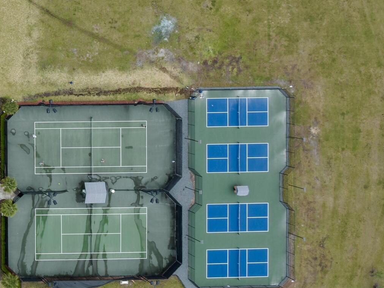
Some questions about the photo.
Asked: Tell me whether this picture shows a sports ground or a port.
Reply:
sports ground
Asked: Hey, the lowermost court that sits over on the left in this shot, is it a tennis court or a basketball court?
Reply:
tennis court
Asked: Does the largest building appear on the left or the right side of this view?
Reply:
left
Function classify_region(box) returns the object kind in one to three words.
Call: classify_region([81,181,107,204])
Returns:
building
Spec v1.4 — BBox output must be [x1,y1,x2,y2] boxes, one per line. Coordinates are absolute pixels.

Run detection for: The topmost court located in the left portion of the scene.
[11,105,176,193]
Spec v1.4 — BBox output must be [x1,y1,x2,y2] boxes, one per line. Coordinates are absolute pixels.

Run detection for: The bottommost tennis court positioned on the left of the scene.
[11,192,176,278]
